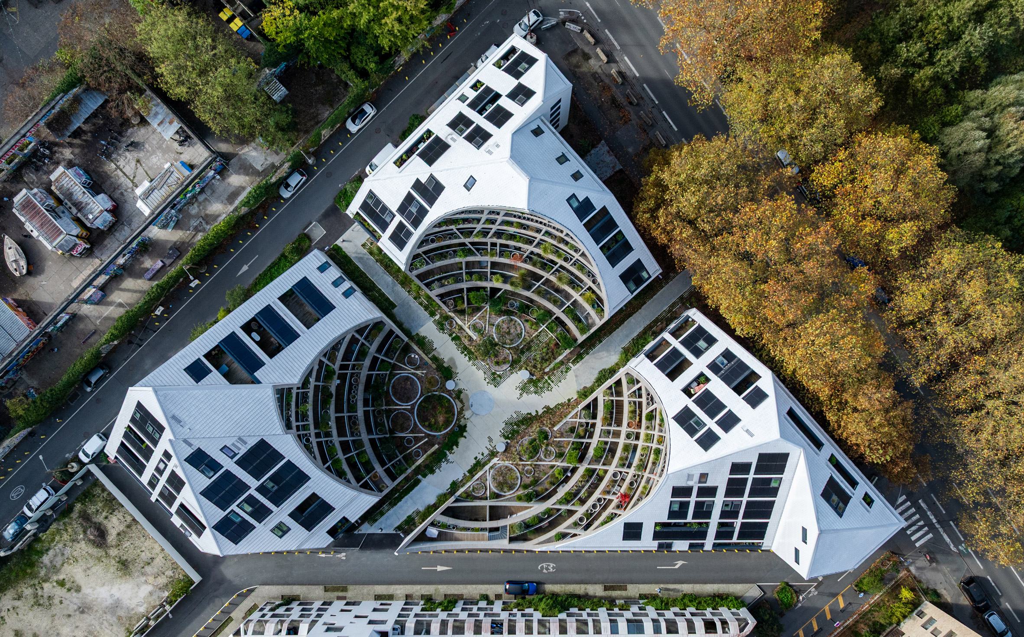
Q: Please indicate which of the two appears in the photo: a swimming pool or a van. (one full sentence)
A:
Looking from above, you can make out a van.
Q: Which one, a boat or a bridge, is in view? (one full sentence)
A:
Visible in the photo is a boat.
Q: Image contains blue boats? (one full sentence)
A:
No, there appears to be no blue boat in this shot.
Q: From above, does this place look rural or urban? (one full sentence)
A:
The area is urban.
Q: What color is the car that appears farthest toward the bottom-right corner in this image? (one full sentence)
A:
In this view, the car that appears farthest toward the bottom-right corner is blue.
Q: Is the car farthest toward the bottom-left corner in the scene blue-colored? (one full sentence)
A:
Yes, blue is the color of the car farthest toward the bottom-left corner.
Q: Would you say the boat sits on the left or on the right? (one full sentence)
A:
The boat appears in the left half of the scene.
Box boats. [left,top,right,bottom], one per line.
[1,233,28,277]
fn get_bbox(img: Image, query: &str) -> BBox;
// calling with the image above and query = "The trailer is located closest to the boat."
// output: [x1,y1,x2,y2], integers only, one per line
[13,188,98,258]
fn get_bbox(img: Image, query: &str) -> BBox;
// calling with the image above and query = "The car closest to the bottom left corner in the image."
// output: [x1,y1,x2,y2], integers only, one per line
[1,509,32,541]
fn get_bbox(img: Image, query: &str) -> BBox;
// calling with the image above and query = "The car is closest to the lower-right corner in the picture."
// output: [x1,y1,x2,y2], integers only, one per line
[982,609,1013,637]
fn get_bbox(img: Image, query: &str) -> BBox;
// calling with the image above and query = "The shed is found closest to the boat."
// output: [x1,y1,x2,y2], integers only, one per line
[0,278,39,358]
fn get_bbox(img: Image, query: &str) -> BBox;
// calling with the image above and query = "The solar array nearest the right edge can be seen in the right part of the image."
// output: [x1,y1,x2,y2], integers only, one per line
[821,474,852,518]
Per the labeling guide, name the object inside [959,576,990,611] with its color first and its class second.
black car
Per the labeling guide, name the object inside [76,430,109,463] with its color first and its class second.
white van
